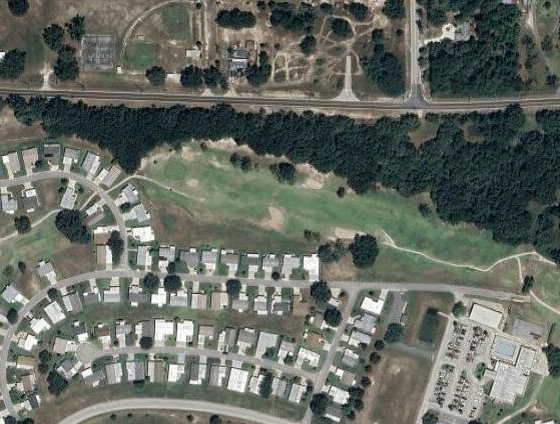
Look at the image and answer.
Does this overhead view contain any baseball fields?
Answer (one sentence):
Yes, a baseball field appears in the view.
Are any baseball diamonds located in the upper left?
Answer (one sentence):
Yes, a baseball diamond is visible in the upper left.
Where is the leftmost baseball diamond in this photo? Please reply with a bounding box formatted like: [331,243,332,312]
[125,41,156,75]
